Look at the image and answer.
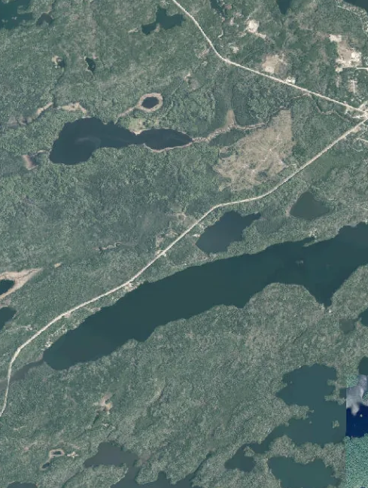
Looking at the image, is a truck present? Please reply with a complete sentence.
No, no truck is visible in the scene.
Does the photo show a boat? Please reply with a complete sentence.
No, there isn't any boat down there.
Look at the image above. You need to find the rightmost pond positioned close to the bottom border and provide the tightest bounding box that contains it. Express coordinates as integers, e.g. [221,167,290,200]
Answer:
[268,455,339,488]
